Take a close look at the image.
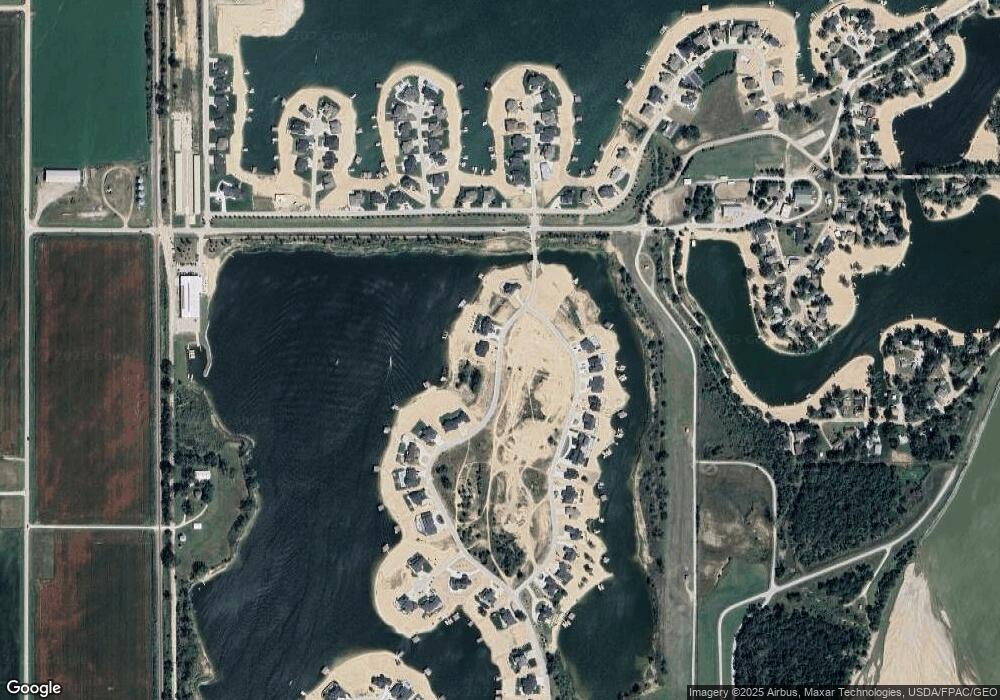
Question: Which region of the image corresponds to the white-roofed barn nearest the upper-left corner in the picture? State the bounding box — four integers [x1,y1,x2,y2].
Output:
[46,170,80,183]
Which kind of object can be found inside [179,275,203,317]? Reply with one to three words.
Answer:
building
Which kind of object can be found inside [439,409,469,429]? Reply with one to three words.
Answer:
house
